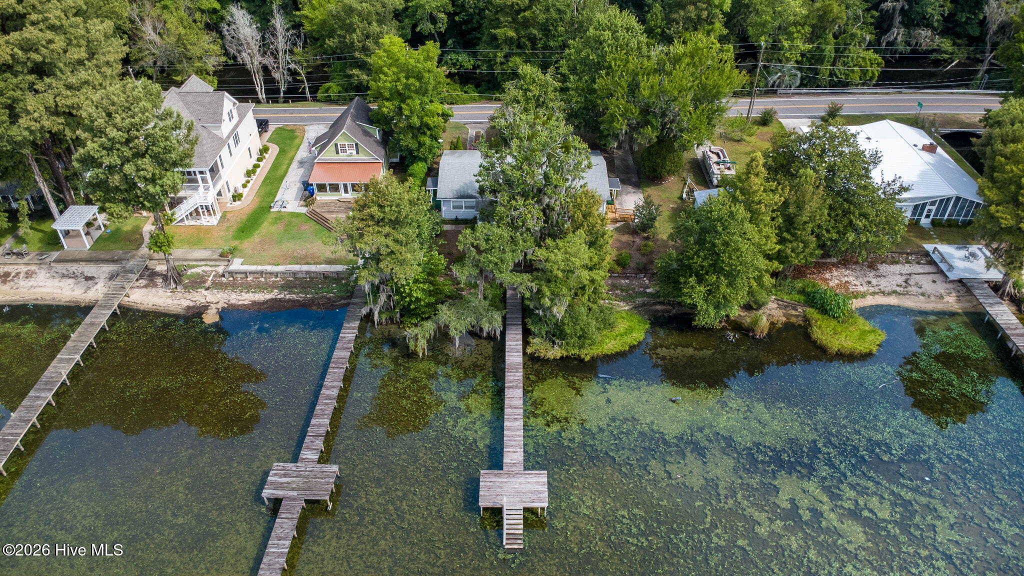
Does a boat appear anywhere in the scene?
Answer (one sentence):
Yes, a boat appears in the view.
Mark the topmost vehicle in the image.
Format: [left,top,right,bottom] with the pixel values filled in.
[256,112,275,135]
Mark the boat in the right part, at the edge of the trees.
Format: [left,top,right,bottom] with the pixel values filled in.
[704,145,741,183]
